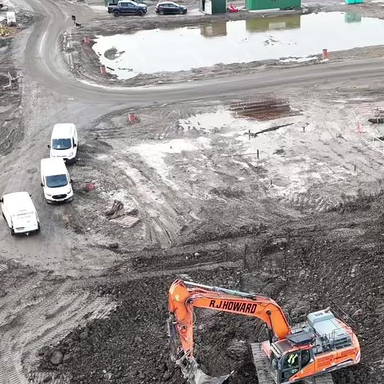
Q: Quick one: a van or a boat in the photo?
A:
van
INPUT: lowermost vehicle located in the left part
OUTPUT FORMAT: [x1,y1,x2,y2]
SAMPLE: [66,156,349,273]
[3,195,42,237]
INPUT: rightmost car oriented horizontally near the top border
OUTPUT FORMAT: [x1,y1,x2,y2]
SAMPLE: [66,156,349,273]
[156,1,187,15]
